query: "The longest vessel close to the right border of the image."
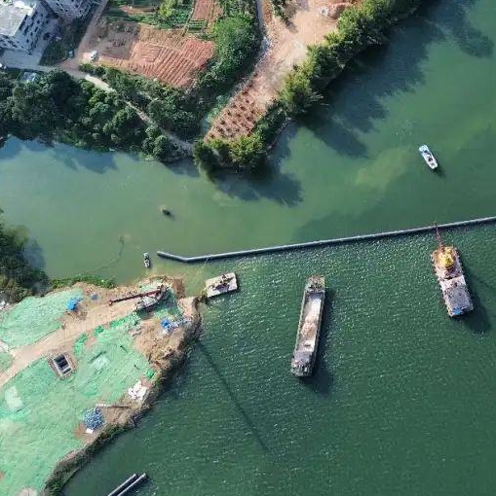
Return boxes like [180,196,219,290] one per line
[432,223,473,317]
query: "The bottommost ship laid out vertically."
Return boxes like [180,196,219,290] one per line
[289,277,328,377]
